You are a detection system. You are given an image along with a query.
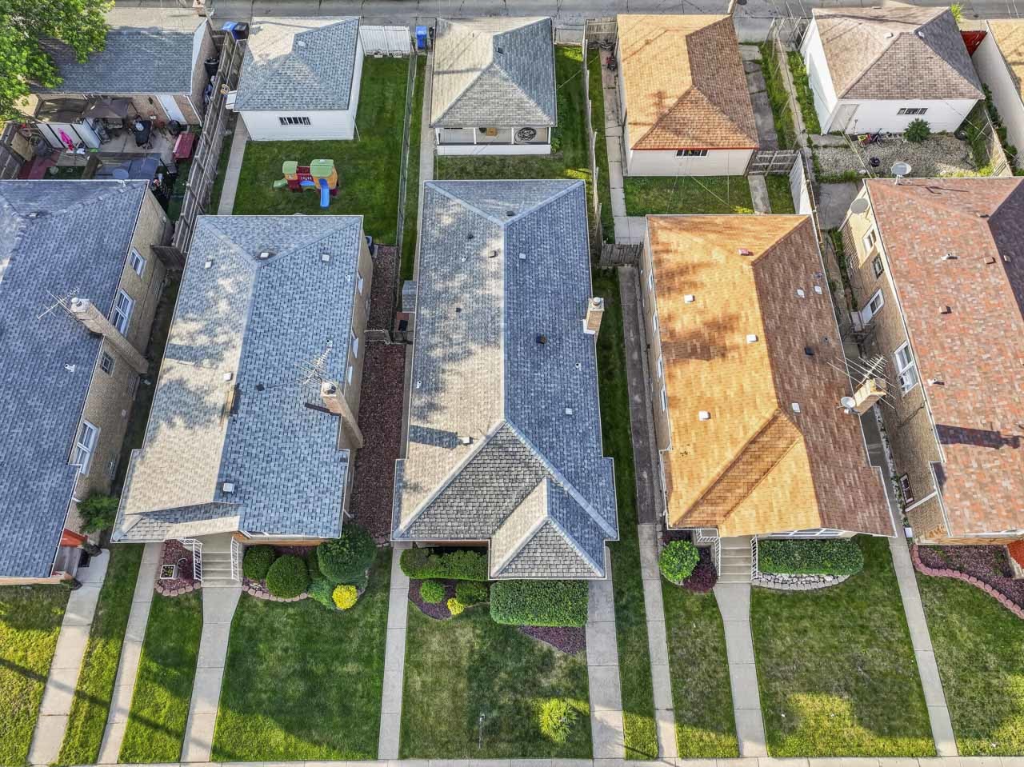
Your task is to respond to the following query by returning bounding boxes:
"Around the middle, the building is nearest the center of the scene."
[388,178,620,586]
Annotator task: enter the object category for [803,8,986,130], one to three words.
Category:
building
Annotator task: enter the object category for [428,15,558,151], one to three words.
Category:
building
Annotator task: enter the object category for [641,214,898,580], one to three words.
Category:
house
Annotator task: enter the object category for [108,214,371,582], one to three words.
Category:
house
